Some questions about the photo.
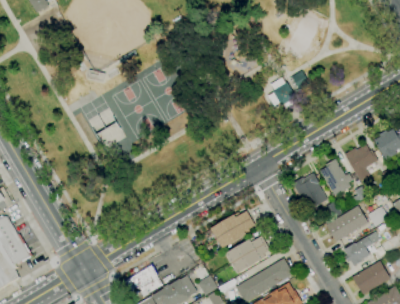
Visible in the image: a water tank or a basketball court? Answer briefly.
basketball court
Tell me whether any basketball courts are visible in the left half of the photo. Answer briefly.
Yes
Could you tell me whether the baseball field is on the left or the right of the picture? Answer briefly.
left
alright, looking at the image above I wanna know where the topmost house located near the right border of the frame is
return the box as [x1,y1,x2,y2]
[376,129,400,158]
